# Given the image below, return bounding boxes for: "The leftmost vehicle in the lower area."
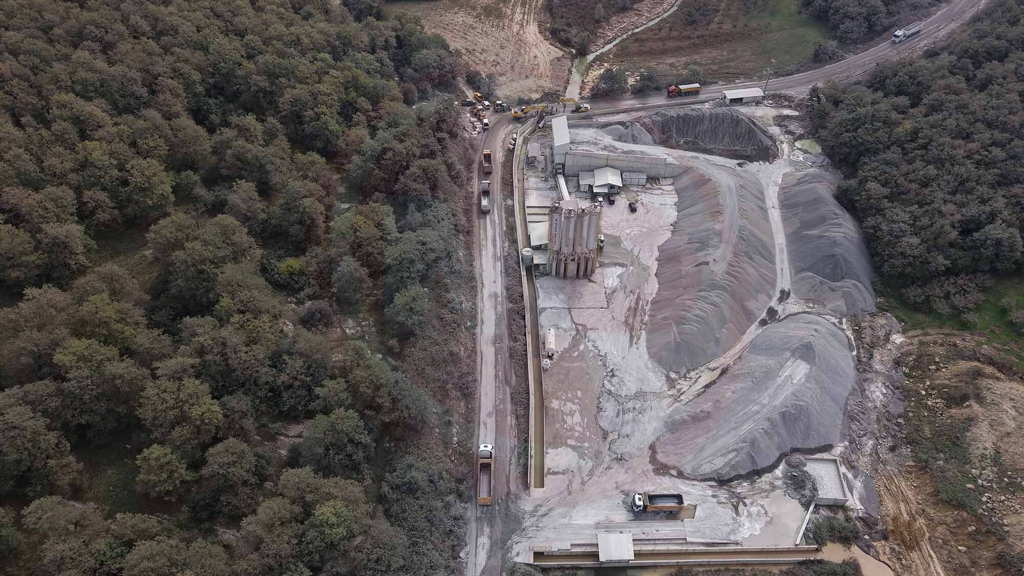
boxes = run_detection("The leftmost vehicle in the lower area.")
[477,445,494,506]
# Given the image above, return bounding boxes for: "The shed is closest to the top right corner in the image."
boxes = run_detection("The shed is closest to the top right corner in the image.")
[722,88,764,106]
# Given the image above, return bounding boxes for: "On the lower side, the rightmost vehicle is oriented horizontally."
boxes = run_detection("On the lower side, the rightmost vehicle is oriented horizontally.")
[631,495,689,518]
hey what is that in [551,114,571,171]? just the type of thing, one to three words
shed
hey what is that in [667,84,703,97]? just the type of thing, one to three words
vehicle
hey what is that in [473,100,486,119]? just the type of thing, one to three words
vehicle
